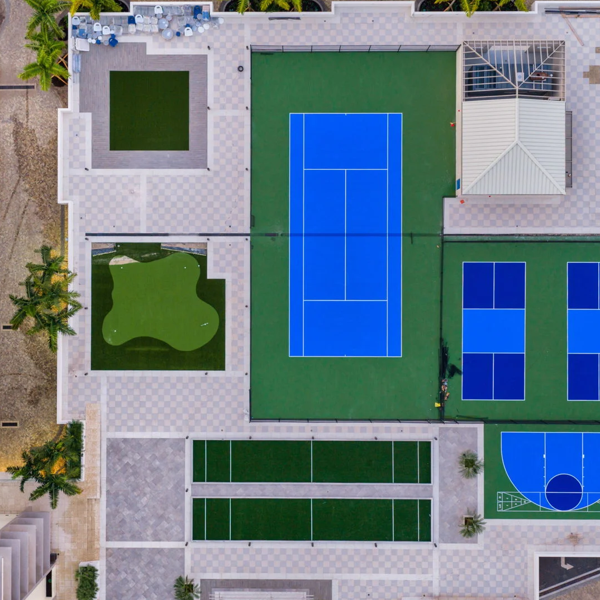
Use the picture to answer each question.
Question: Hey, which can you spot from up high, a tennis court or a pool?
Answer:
tennis court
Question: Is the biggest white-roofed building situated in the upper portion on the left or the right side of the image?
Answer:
right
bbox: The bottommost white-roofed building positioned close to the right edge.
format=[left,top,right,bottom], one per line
[457,39,572,198]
